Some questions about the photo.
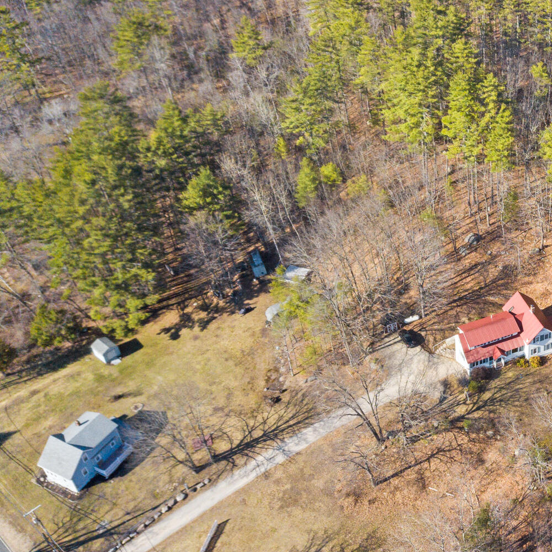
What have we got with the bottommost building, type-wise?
home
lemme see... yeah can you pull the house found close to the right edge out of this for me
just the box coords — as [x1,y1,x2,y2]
[452,289,552,374]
